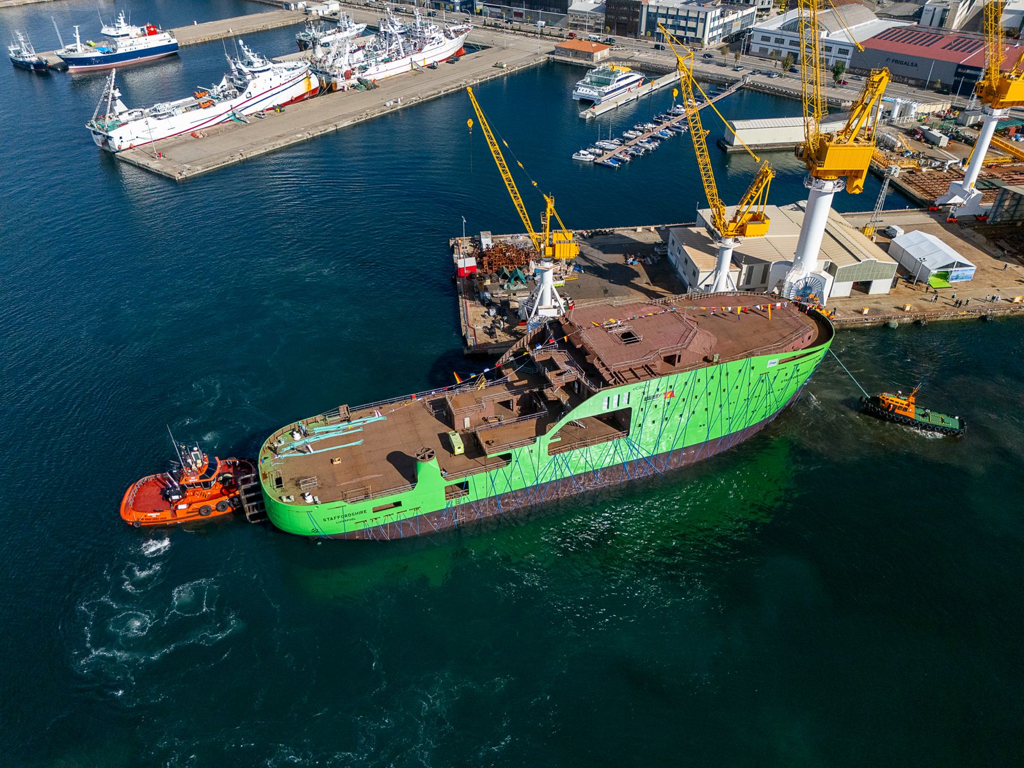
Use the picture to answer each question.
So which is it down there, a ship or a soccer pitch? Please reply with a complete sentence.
There is a ship in the scene.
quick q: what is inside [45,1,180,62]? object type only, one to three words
ship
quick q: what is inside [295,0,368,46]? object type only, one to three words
vessel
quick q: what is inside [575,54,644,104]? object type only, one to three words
ship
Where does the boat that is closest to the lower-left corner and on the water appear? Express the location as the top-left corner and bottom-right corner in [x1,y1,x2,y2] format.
[116,442,255,527]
